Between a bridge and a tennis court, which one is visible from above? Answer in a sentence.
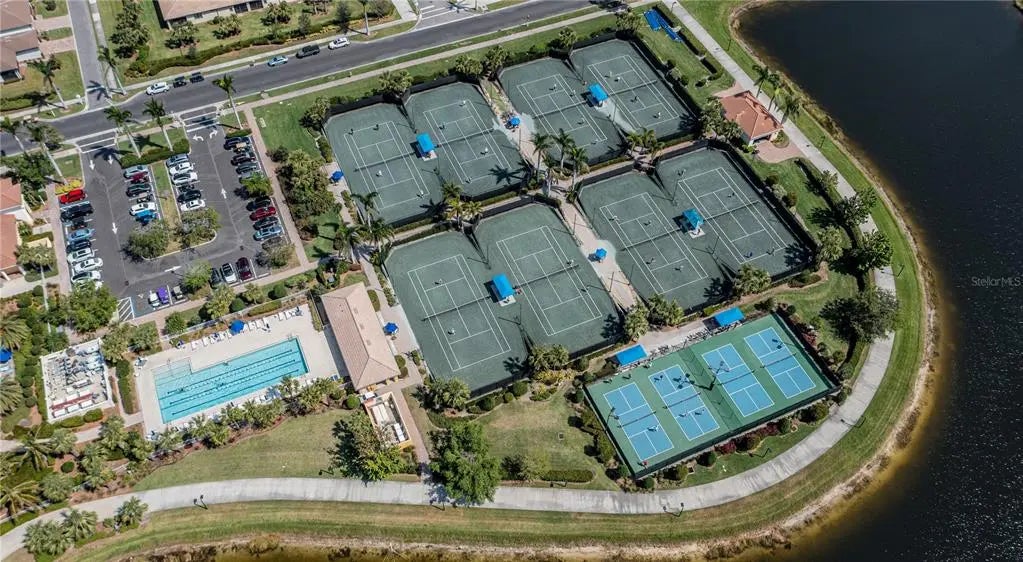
The one in the frame is a tennis court.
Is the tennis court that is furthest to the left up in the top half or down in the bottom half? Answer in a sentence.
The tennis court that is furthest to the left sits in the top half of the picture.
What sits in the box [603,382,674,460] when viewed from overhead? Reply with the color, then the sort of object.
blue sports court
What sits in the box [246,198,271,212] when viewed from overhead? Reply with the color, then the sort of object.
black vehicle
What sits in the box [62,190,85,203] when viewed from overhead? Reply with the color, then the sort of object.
red vehicle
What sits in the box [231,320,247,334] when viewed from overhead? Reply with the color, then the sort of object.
blue umbrella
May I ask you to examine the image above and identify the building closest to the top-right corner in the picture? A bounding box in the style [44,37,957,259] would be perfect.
[715,90,783,145]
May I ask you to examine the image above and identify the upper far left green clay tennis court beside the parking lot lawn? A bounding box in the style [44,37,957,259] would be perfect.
[322,102,453,229]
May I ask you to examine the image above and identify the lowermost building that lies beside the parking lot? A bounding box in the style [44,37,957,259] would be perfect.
[317,281,400,393]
